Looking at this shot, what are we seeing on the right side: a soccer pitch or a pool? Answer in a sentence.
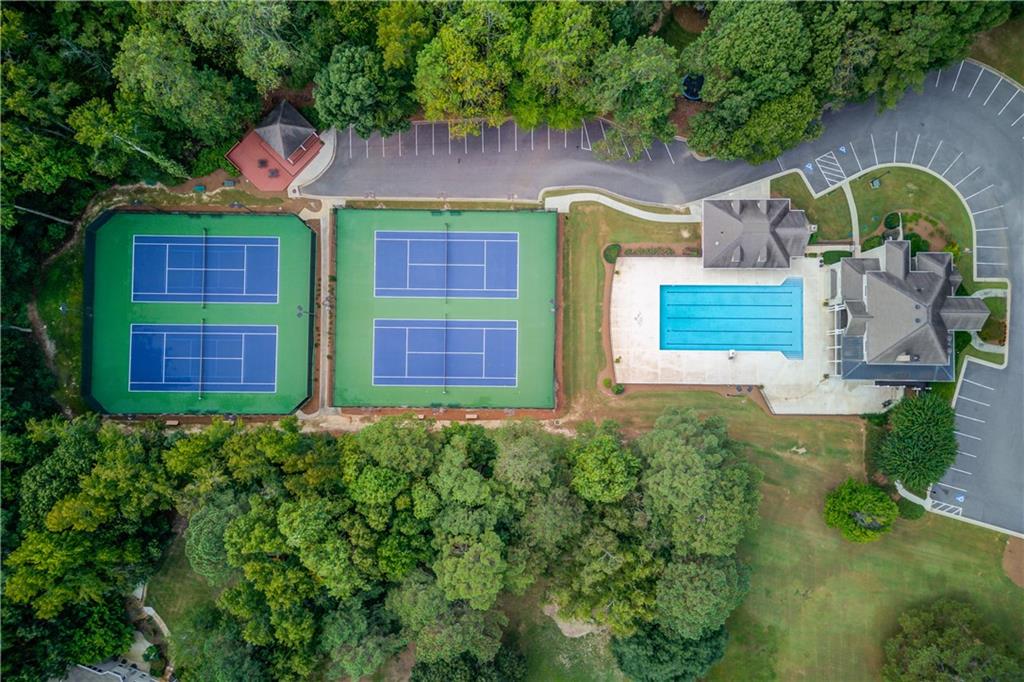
The feature located on the right side is a pool.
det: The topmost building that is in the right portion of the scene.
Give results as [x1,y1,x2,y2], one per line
[700,200,817,269]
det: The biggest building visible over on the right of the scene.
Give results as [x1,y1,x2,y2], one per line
[825,240,991,380]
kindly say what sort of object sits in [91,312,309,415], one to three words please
tennis court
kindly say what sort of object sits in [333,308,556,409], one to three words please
tennis court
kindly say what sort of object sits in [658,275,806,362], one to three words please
swimming pool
